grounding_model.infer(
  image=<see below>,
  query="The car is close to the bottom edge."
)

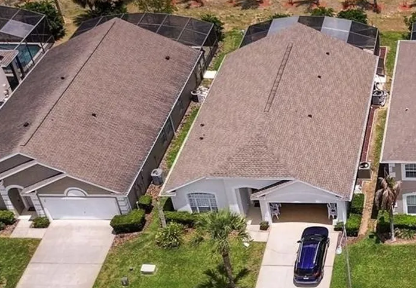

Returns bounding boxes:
[294,225,330,279]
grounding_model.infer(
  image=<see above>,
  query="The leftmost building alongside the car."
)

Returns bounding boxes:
[165,22,380,225]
